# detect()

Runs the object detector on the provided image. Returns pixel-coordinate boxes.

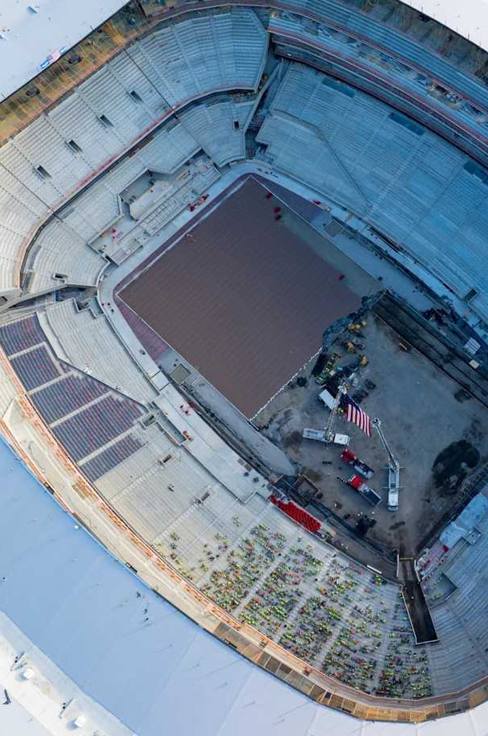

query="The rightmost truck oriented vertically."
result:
[372,417,405,510]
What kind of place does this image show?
sports ground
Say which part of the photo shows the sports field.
center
